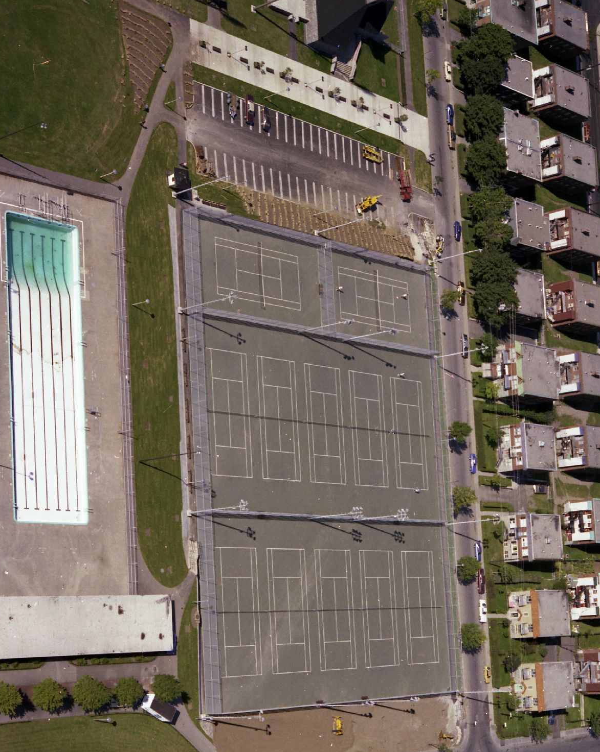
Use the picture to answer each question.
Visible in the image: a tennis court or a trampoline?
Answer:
tennis court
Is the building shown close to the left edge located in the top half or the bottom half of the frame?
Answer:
bottom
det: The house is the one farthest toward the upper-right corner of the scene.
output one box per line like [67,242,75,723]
[536,0,591,58]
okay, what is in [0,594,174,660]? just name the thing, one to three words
building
